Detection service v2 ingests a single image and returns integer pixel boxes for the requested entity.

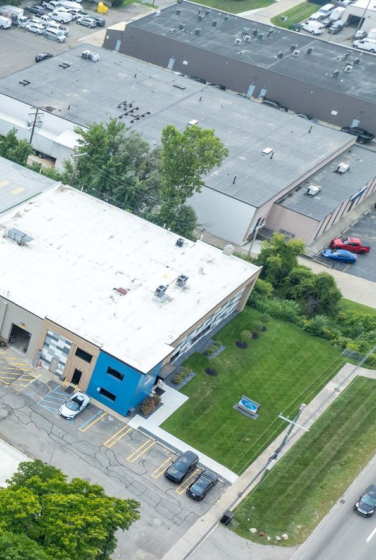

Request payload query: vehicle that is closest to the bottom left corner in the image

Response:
[57,391,91,420]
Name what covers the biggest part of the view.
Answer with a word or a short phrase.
buildings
